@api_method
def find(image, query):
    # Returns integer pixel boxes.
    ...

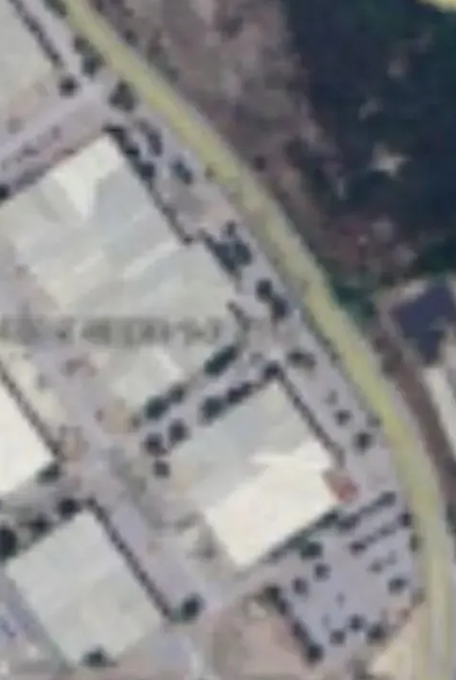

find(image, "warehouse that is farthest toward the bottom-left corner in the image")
[6,513,165,669]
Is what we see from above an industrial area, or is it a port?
industrial area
